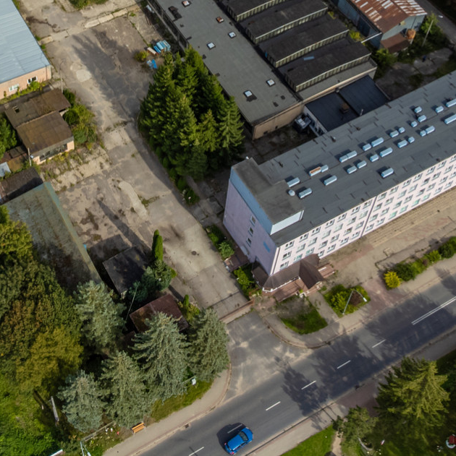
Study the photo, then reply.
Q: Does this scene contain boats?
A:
No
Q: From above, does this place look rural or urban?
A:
urban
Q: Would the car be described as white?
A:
No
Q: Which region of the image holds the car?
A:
bottom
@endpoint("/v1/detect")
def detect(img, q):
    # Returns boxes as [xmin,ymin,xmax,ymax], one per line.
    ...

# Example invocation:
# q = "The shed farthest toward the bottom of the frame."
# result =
[130,293,188,340]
